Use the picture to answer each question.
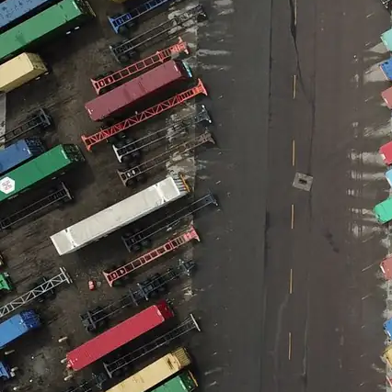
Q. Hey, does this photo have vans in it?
No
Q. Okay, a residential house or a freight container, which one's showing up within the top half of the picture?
freight container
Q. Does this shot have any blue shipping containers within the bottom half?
Yes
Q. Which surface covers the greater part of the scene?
paved ground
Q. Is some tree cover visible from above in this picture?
No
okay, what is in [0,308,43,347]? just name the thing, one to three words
shipping container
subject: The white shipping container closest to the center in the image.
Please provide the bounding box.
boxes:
[51,175,190,255]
